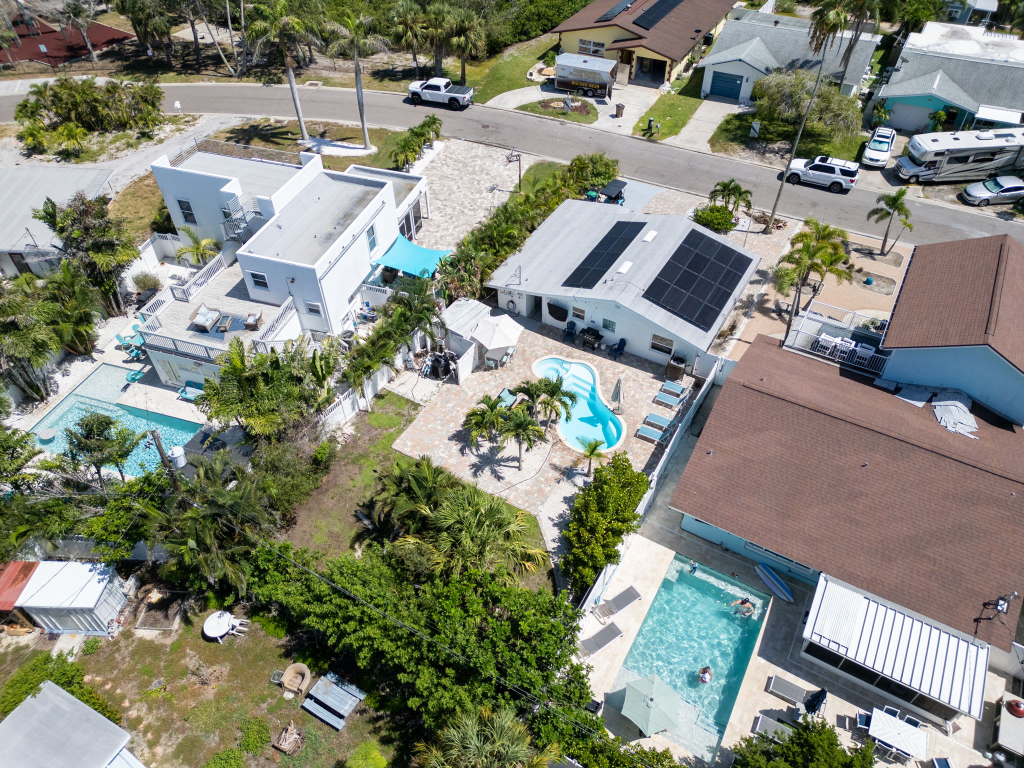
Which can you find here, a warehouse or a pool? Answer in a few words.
pool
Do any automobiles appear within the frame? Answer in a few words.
Yes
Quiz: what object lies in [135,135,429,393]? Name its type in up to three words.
house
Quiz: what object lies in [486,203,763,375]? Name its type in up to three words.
house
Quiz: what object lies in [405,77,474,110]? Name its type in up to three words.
truck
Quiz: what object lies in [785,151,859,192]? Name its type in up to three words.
car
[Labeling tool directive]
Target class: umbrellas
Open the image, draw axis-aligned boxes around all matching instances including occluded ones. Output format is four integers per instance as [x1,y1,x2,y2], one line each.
[611,377,627,416]
[472,314,524,351]
[795,687,835,730]
[621,673,681,736]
